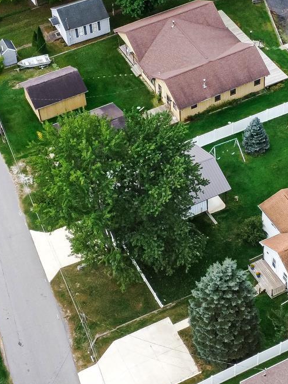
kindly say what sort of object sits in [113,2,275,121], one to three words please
house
